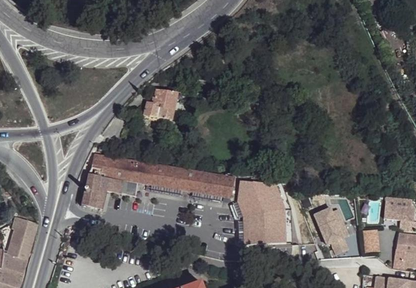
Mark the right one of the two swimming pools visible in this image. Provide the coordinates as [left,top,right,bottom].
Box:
[368,200,382,224]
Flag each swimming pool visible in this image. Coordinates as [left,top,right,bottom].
[368,200,382,224]
[330,198,354,222]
